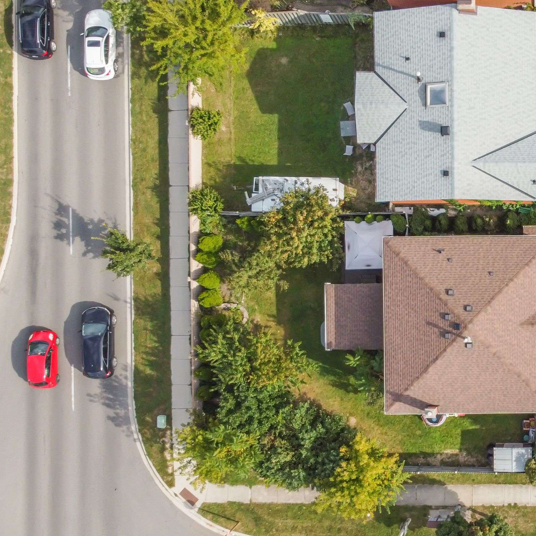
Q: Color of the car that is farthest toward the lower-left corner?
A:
red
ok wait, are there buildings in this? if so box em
[493,445,531,473]
[324,225,536,415]
[354,0,536,205]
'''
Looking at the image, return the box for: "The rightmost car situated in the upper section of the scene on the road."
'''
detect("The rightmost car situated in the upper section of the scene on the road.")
[82,13,118,81]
